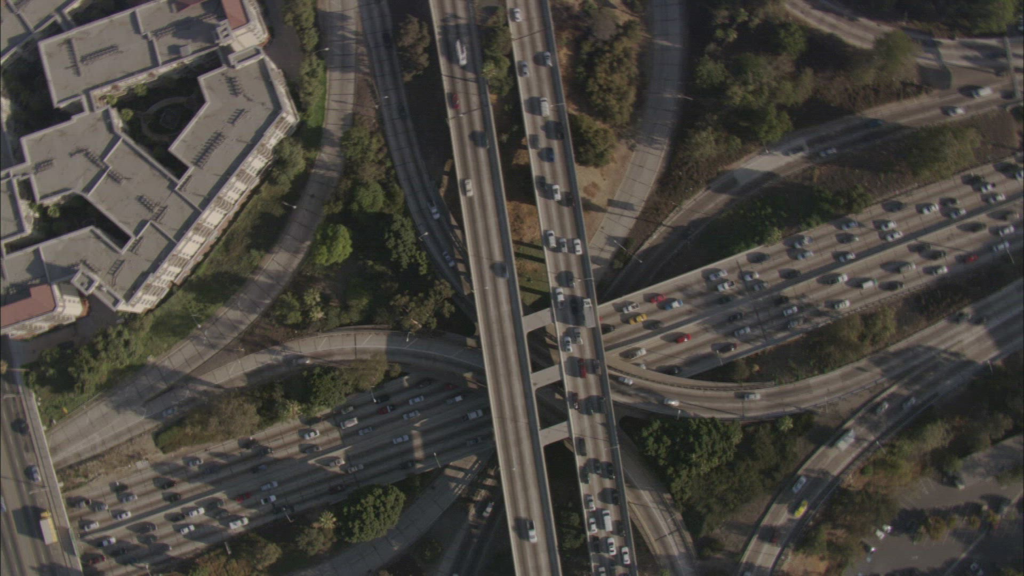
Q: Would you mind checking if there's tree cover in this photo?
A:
Yes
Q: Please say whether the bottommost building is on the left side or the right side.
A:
left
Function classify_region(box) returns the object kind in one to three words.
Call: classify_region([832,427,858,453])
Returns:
truck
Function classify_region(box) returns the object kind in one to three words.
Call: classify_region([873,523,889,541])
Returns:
car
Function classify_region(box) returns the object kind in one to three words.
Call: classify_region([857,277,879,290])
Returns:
vehicle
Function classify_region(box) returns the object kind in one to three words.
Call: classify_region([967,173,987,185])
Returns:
vehicle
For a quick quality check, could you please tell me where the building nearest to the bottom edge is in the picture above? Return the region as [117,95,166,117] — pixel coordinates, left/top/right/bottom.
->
[0,283,97,345]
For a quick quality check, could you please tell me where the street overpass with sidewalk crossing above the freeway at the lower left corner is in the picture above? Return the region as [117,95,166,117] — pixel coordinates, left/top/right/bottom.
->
[0,269,87,576]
